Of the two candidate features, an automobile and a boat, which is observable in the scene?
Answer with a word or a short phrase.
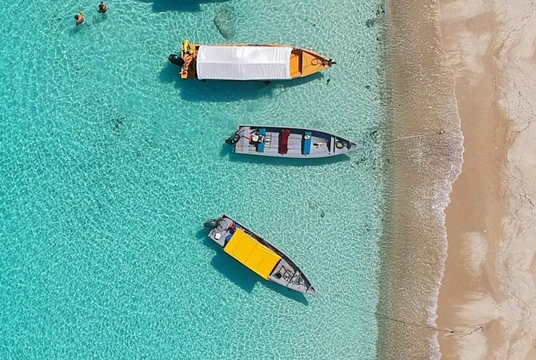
boat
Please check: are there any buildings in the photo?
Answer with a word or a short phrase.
No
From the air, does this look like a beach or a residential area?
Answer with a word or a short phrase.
beach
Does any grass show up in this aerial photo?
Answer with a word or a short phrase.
No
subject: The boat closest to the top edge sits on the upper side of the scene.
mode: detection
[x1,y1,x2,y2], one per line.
[167,43,336,80]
